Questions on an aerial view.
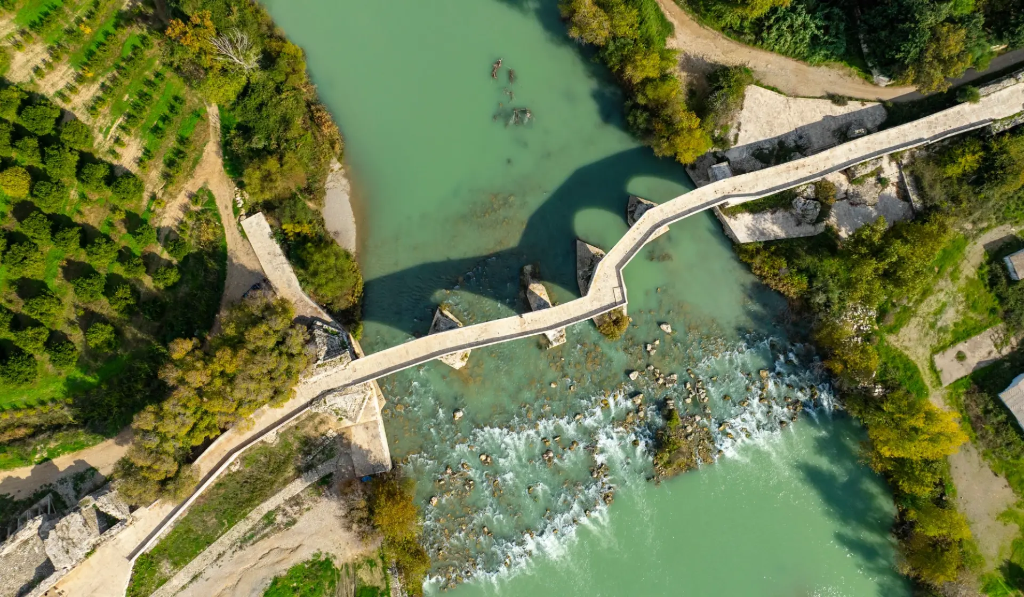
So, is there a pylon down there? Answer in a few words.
No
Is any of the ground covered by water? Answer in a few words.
Yes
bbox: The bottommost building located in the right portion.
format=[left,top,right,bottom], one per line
[991,371,1024,442]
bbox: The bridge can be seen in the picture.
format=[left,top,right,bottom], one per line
[105,82,1024,561]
